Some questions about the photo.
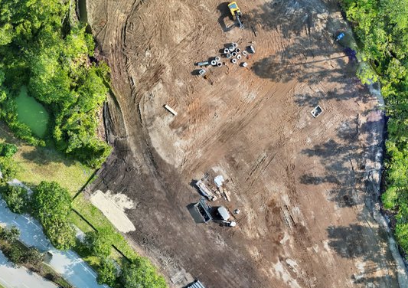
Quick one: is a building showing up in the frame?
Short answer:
No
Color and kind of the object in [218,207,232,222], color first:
white work vehicle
